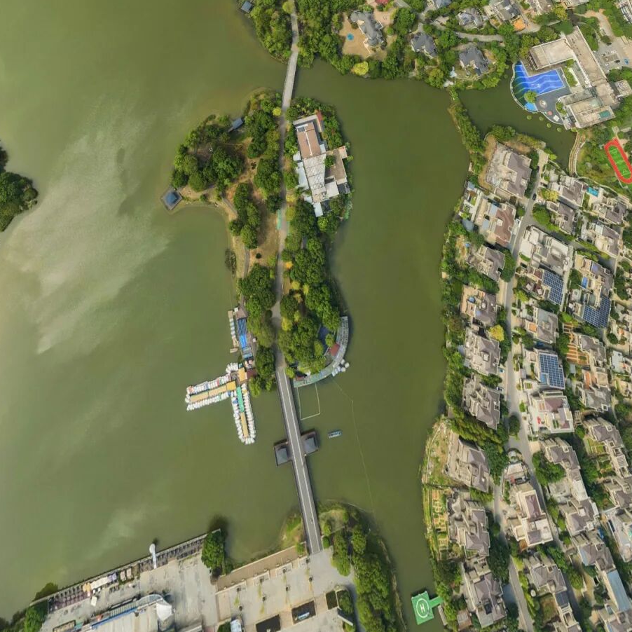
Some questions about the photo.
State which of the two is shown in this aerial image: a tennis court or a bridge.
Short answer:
bridge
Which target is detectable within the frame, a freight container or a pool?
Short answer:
pool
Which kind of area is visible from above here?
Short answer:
residential area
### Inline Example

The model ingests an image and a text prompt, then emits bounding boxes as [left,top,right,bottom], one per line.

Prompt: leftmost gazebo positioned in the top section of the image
[161,187,183,210]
